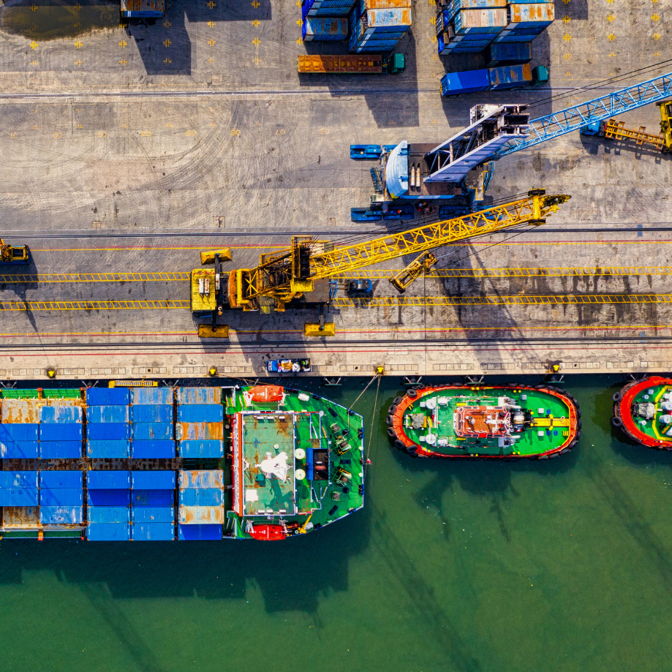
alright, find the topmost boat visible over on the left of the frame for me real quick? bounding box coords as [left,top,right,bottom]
[248,384,283,402]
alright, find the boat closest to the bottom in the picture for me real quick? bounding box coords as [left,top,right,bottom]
[251,523,286,542]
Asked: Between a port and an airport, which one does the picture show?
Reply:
port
